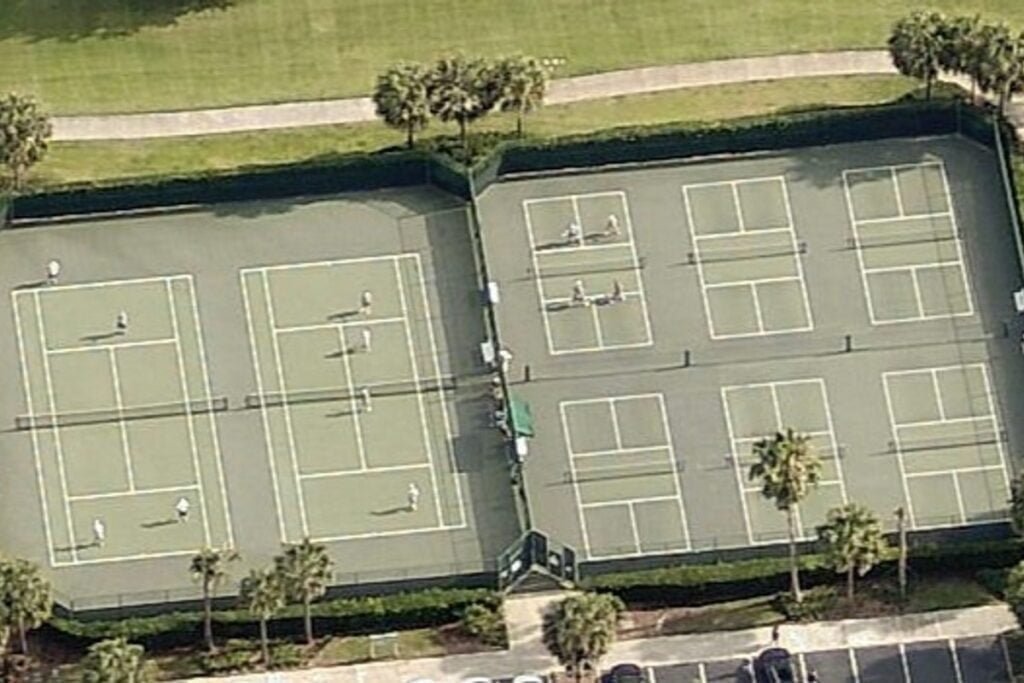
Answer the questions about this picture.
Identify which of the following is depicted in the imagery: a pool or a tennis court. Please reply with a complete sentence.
It is a tennis court that can be seen here.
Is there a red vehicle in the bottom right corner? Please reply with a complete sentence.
No, there's no red vehicle to be seen in the bottom right corner.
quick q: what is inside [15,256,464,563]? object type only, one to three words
tennis court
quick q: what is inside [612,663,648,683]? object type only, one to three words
car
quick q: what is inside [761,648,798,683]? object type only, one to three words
car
